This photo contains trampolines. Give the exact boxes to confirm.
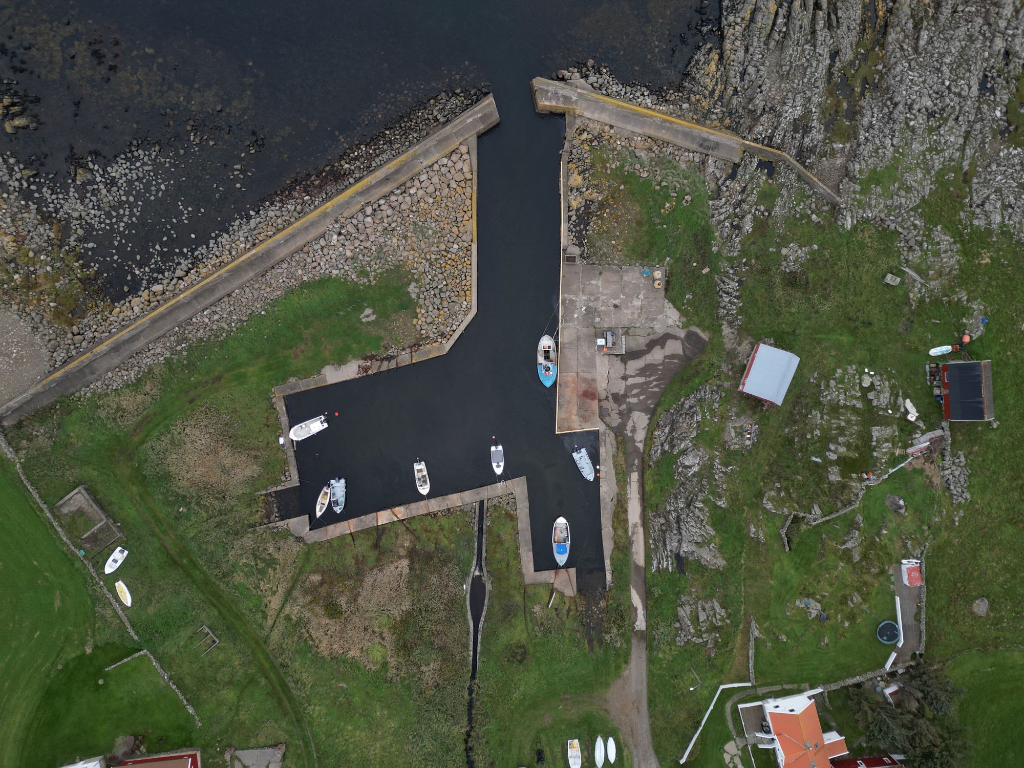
[878,623,902,646]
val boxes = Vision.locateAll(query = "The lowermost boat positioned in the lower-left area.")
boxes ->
[117,581,133,607]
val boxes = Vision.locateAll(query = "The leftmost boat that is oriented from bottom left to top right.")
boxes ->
[105,545,129,574]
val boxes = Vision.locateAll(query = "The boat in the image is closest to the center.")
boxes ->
[537,335,557,388]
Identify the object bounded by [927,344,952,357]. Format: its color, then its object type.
white boat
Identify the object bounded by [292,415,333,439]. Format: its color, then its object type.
white boat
